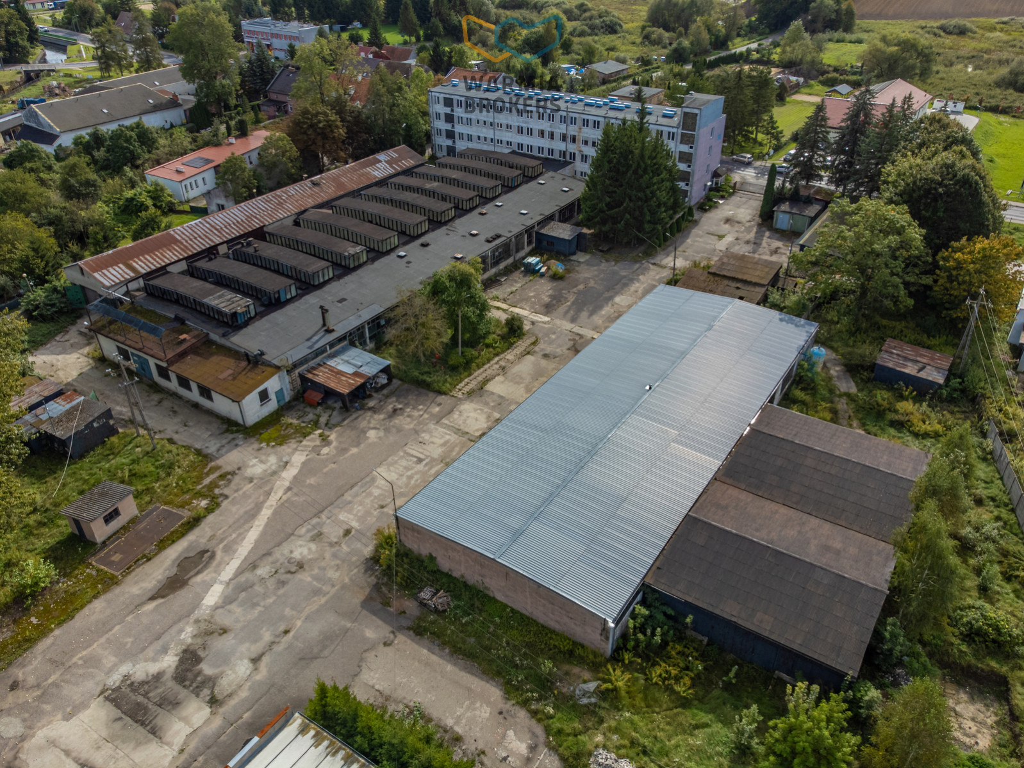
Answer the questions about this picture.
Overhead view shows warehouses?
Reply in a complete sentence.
Yes, there's a warehouse here.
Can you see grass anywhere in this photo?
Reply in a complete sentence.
Yes, some grass is visible.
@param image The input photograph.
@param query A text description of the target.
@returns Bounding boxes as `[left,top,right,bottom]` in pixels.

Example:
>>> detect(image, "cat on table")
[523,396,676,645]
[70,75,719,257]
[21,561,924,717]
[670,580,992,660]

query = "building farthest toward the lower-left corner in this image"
[51,474,138,544]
